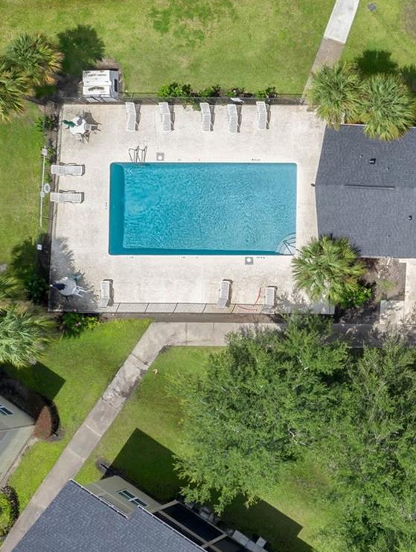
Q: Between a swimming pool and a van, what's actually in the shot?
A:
swimming pool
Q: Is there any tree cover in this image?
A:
Yes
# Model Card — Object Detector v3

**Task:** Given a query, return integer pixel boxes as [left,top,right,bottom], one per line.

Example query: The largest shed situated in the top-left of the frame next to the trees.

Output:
[79,69,116,99]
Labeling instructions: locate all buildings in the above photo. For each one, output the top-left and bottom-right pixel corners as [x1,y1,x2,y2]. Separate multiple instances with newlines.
[1,471,249,552]
[79,69,116,99]
[0,399,37,468]
[308,124,416,260]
